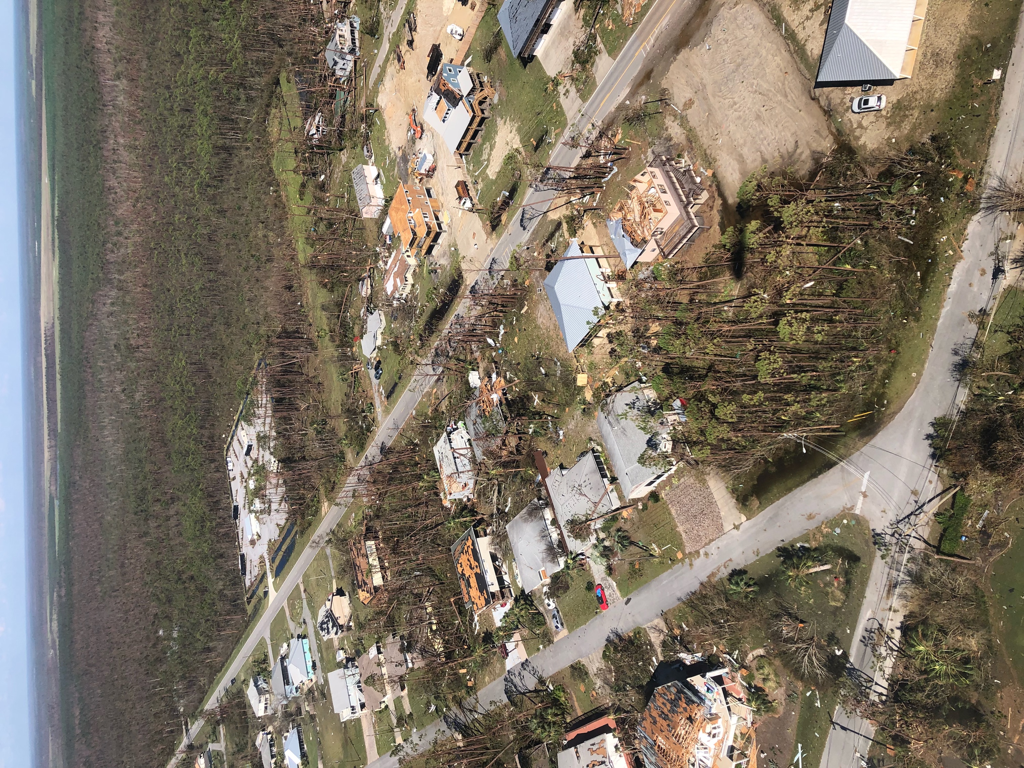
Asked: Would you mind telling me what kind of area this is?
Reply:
residential area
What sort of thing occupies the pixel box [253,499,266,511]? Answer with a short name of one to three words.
vehicle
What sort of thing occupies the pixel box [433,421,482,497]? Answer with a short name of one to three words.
house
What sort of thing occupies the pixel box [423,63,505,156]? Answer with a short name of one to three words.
house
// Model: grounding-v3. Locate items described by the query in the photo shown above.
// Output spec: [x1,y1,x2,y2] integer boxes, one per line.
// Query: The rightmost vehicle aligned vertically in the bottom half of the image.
[593,583,608,612]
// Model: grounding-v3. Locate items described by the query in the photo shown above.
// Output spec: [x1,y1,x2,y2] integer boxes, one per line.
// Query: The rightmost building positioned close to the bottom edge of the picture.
[637,668,754,768]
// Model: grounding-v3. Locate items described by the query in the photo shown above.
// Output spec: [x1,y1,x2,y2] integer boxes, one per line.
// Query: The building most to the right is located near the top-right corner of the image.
[817,0,931,84]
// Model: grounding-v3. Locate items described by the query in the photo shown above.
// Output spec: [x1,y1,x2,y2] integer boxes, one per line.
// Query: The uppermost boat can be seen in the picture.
[443,23,461,41]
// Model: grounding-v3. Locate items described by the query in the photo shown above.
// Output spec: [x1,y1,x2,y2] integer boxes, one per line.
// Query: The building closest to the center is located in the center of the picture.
[463,370,517,463]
